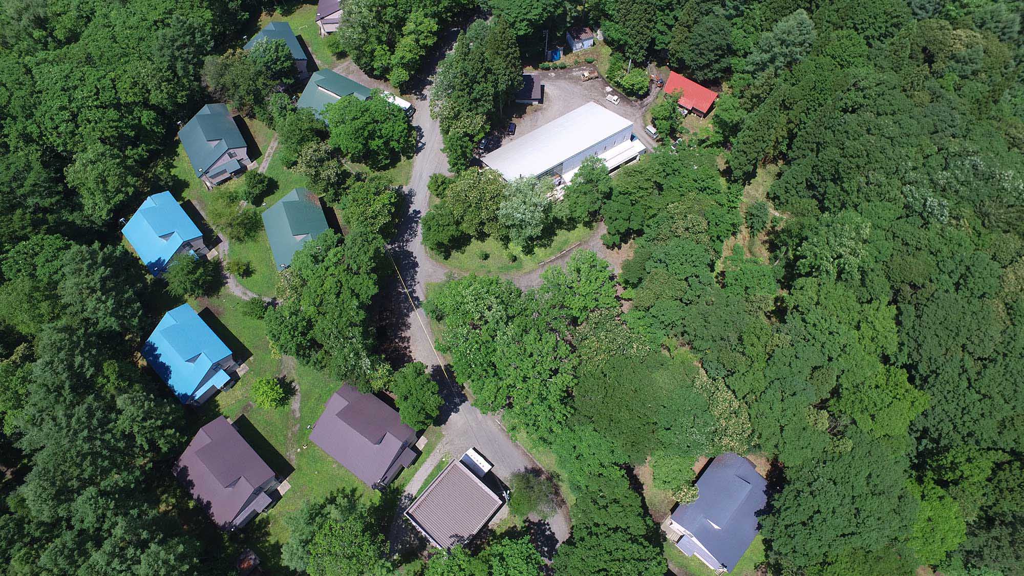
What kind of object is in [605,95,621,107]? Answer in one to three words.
vehicle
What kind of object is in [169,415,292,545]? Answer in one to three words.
building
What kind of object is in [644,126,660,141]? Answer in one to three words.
vehicle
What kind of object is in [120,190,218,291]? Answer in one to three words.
building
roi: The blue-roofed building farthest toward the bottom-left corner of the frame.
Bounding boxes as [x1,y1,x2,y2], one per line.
[137,303,249,417]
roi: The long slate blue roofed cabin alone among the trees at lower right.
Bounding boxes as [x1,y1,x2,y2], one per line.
[664,442,768,576]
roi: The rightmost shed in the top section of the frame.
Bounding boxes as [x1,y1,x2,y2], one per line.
[665,70,718,121]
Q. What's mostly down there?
trees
